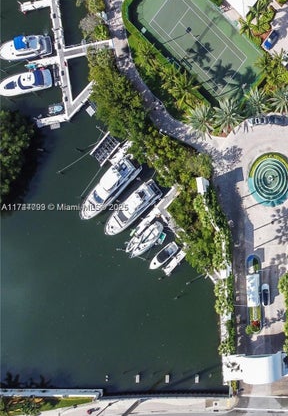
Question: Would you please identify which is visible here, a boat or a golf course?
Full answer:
The image shows a boat.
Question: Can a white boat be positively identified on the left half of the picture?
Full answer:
Yes, looking on the left half of the picture, one can make out a white boat.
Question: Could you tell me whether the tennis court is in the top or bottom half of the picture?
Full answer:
The top half of the photo is where the tennis court is.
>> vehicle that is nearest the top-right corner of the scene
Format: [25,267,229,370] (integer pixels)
[262,29,281,52]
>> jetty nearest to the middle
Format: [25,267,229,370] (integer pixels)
[132,194,189,249]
